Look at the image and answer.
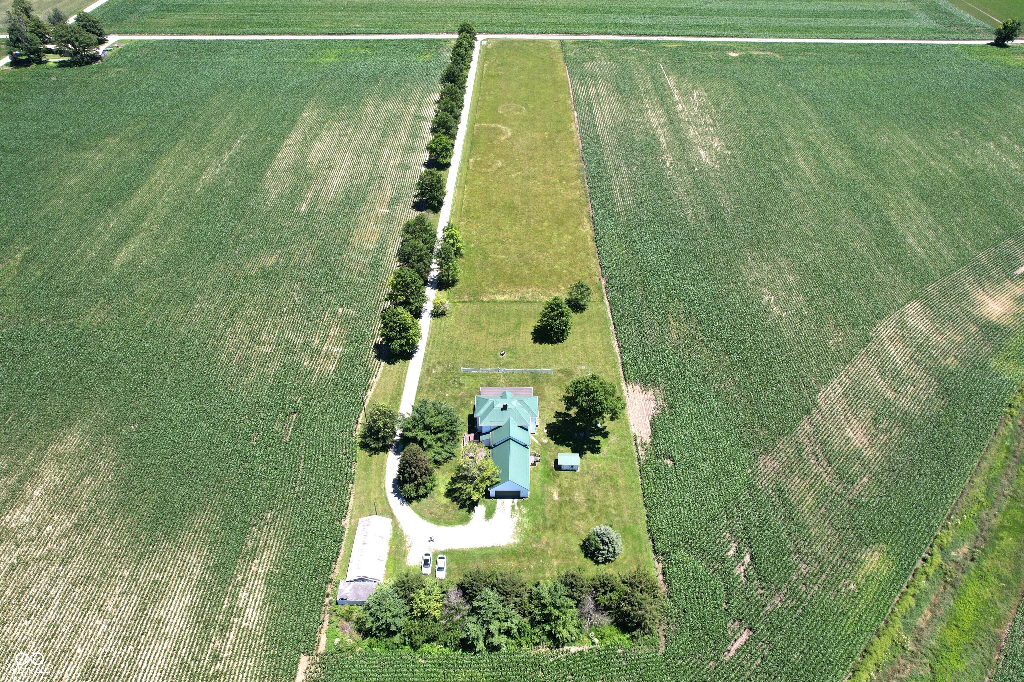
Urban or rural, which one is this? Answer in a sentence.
From above, the setting appears rural.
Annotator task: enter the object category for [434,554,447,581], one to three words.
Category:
vehicle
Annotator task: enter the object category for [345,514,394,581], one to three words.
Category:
barn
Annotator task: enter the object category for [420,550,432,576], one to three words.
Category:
vehicle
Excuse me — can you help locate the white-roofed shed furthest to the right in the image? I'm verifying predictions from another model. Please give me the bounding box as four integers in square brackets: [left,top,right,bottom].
[558,453,580,470]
